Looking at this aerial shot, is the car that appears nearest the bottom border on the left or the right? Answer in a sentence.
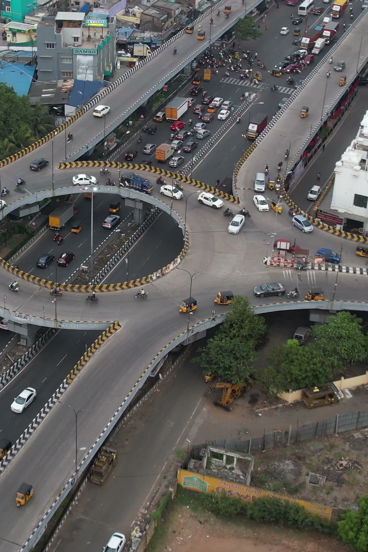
You can find the car that appears nearest the bottom border on the left side of the picture.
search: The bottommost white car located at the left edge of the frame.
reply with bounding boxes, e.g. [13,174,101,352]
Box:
[10,389,38,415]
